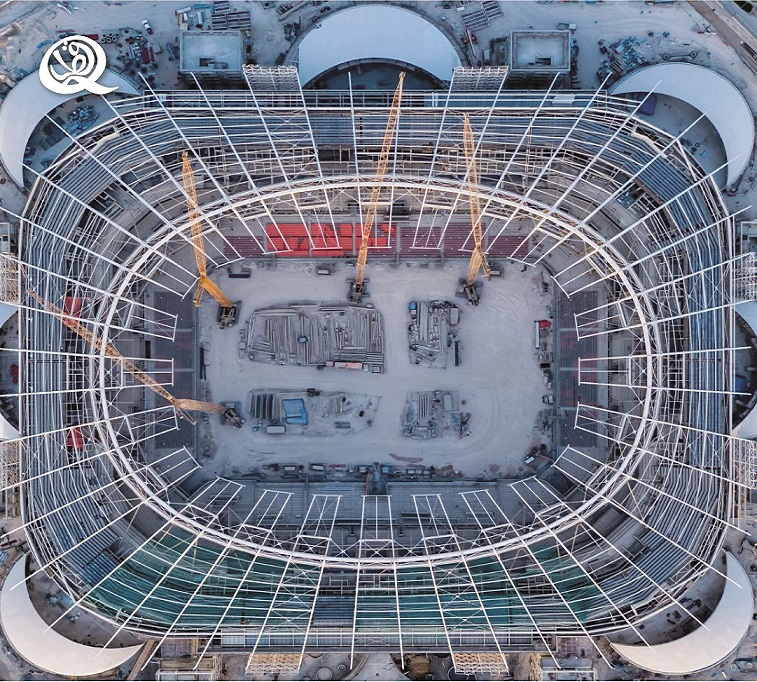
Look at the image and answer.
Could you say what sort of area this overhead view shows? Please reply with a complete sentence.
The area seen from above is a sports ground.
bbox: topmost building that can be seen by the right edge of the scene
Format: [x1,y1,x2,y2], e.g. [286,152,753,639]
[606,59,757,197]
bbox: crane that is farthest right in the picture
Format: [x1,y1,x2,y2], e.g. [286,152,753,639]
[446,111,492,309]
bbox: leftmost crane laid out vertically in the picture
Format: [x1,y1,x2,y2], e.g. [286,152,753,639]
[182,151,233,337]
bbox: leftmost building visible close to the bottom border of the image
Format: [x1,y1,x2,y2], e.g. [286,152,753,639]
[0,546,149,682]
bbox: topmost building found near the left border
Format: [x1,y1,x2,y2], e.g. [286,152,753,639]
[0,59,143,197]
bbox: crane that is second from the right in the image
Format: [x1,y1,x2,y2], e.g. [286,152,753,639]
[344,70,404,310]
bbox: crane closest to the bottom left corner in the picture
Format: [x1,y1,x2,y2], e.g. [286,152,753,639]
[25,288,249,429]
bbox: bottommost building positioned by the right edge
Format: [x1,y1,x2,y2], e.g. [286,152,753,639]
[602,546,757,682]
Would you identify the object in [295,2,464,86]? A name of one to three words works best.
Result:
building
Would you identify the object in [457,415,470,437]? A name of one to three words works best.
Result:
vehicle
